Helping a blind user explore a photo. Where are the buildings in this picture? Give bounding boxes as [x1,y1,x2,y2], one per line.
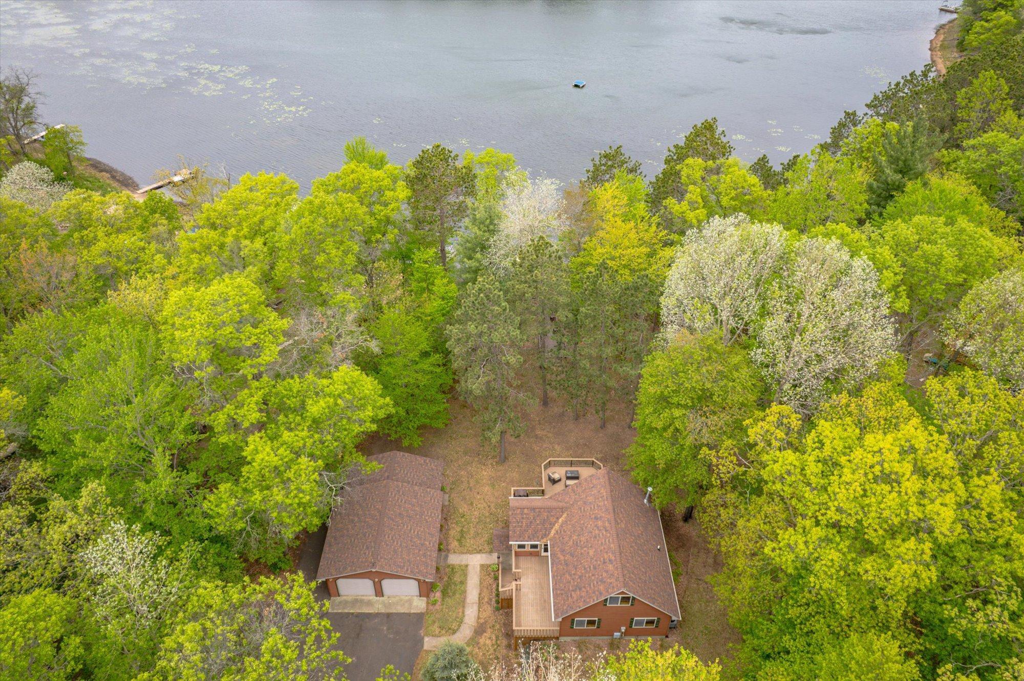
[493,470,682,641]
[316,451,444,598]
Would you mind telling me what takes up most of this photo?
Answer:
trees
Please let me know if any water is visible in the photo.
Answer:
Yes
